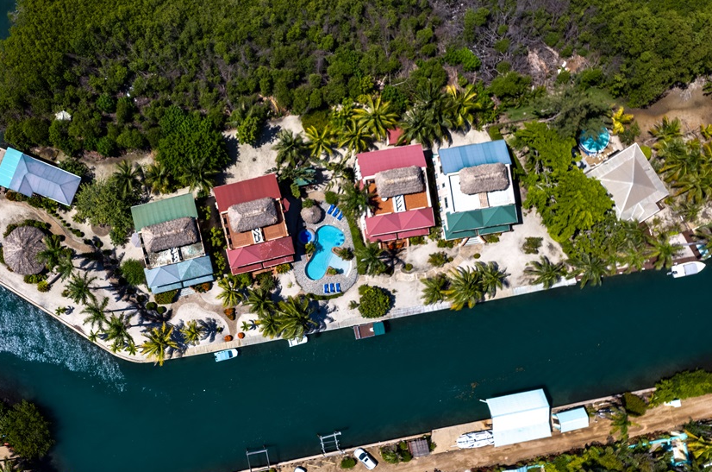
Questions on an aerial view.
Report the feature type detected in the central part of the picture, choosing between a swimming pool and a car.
swimming pool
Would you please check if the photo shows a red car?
No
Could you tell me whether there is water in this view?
Yes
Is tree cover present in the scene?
Yes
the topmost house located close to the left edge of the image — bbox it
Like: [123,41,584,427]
[0,148,81,205]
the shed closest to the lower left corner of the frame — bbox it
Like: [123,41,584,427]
[4,228,46,272]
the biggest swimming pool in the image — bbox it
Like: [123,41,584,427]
[293,201,358,296]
